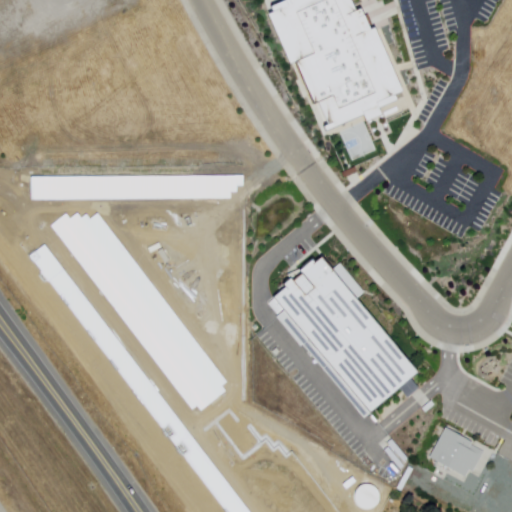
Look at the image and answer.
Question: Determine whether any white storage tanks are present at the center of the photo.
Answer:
No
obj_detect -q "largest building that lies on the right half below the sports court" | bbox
[268,256,418,418]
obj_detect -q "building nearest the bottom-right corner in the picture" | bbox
[430,426,484,476]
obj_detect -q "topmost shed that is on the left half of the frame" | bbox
[31,175,244,200]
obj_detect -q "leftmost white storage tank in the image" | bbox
[352,481,382,511]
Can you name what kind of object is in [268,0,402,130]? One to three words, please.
building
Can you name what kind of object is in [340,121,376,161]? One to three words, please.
sports court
